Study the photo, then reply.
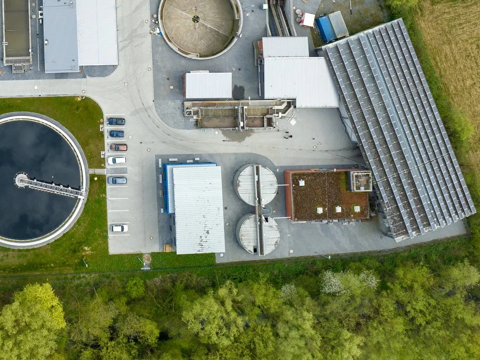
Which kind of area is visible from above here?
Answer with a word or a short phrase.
industrial area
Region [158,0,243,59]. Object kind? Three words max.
storage tank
